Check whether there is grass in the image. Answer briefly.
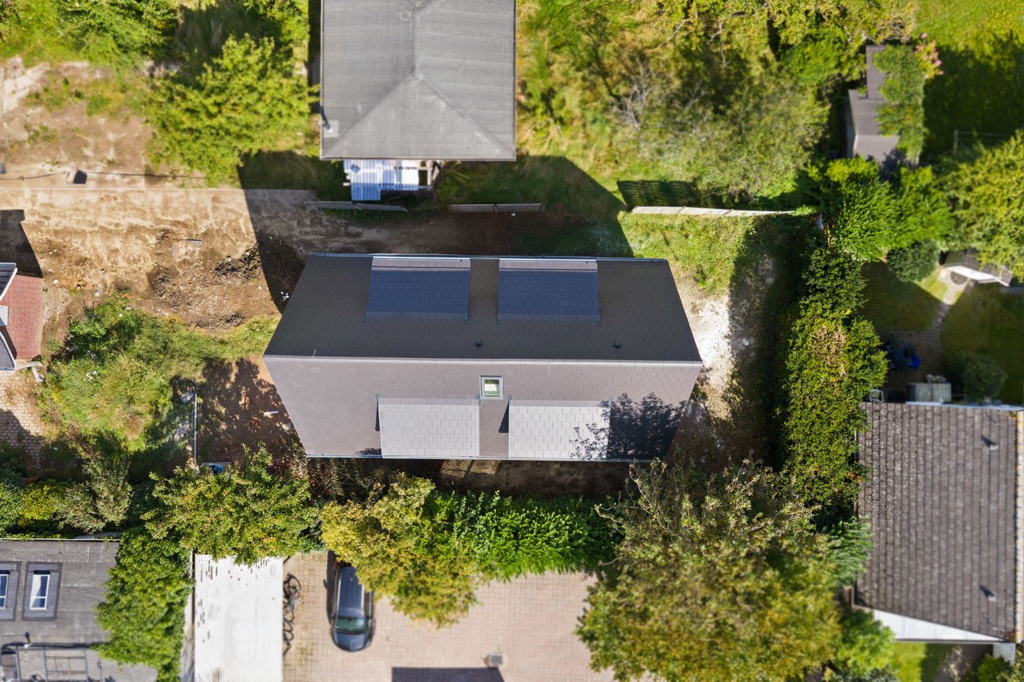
Yes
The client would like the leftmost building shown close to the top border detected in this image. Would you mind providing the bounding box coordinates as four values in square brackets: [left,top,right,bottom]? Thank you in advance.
[319,0,519,166]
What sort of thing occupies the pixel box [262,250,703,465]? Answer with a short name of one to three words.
house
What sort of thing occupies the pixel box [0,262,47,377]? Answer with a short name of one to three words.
house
